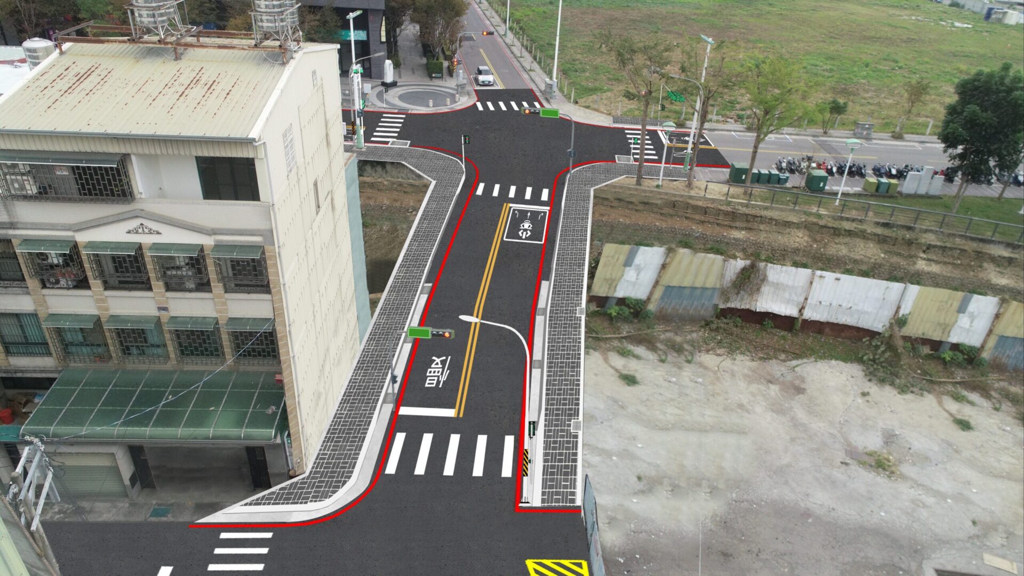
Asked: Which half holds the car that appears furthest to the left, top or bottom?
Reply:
top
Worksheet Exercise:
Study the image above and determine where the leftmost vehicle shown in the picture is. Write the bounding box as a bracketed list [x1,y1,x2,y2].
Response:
[471,64,492,84]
